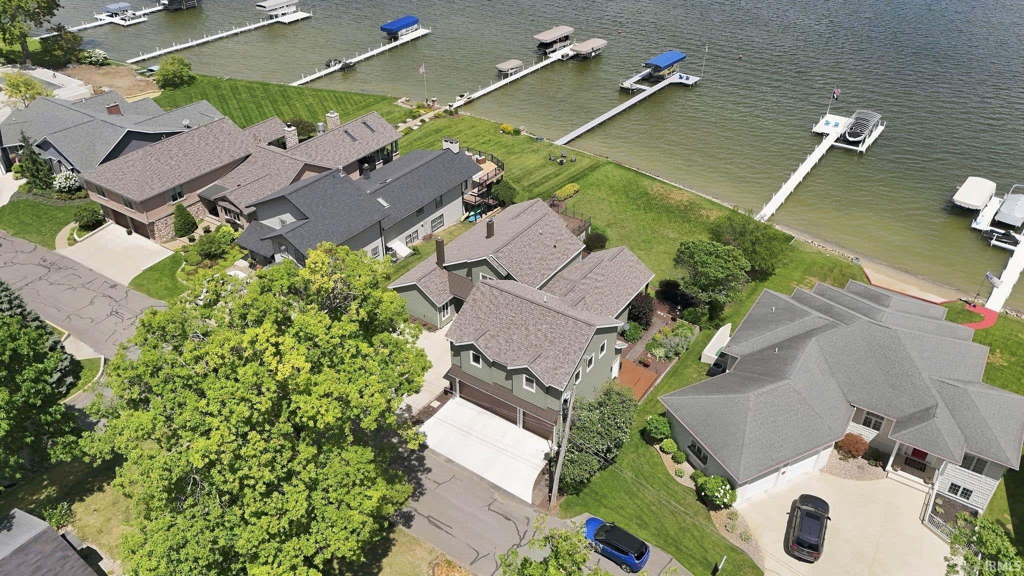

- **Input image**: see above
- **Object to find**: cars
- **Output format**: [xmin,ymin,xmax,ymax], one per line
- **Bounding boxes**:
[582,521,656,576]
[784,494,827,561]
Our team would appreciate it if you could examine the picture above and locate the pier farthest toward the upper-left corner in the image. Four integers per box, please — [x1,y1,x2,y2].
[79,7,162,28]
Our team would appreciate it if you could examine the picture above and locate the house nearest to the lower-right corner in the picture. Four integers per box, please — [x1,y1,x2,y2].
[657,279,1024,505]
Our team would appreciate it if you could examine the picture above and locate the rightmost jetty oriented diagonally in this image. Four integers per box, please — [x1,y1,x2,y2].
[755,110,887,222]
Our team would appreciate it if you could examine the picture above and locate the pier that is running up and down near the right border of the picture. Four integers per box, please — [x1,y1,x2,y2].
[969,192,1024,314]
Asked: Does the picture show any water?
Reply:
Yes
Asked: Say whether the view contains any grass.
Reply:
Yes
